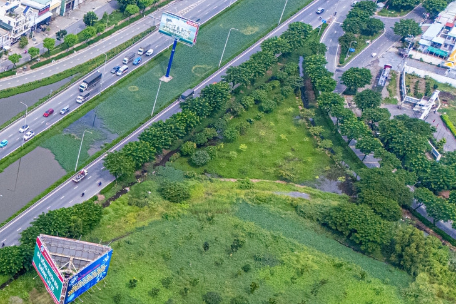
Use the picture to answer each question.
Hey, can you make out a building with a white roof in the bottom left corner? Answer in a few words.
No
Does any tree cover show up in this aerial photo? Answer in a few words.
Yes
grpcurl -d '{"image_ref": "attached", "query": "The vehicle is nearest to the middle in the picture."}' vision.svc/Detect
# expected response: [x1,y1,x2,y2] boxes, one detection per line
[177,85,197,102]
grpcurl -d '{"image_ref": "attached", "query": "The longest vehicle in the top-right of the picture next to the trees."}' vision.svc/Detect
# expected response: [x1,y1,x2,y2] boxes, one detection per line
[376,66,393,88]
